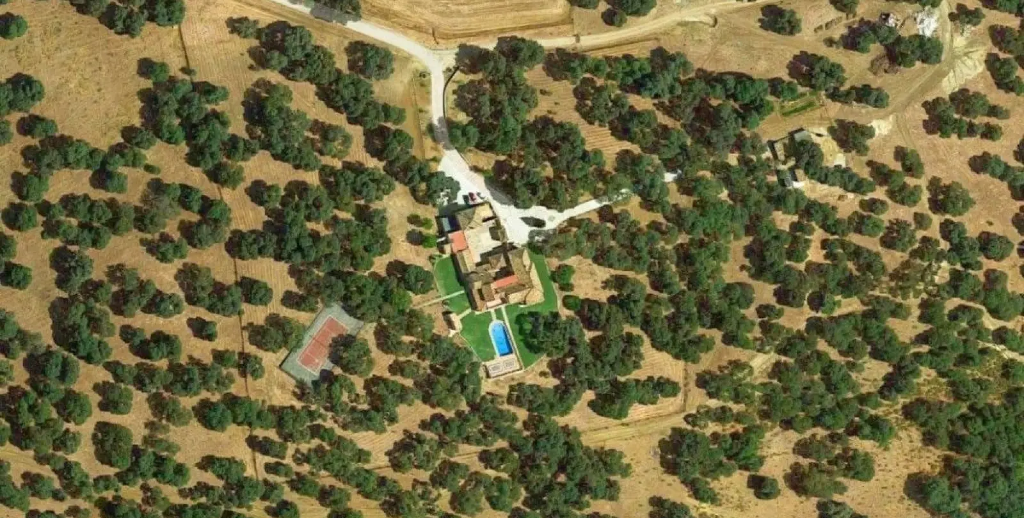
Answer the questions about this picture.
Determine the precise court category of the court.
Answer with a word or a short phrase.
tennis court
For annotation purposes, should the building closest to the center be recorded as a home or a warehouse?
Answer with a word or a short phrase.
home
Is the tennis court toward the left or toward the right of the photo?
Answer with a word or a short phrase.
left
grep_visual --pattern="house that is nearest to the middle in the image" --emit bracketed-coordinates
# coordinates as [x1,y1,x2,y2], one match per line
[442,202,534,311]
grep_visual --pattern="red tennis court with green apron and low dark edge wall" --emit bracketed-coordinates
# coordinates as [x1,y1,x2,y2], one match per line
[280,301,363,383]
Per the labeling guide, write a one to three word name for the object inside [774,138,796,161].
barn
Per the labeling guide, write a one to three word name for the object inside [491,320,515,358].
swimming pool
